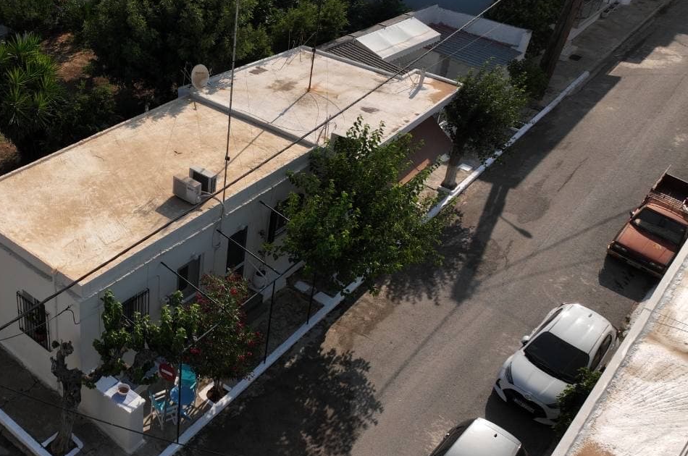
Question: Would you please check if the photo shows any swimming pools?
No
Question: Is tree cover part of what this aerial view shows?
Yes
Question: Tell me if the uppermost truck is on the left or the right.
right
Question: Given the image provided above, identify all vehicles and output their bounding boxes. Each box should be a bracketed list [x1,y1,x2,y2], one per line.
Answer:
[604,184,688,281]
[493,304,621,430]
[420,415,533,456]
